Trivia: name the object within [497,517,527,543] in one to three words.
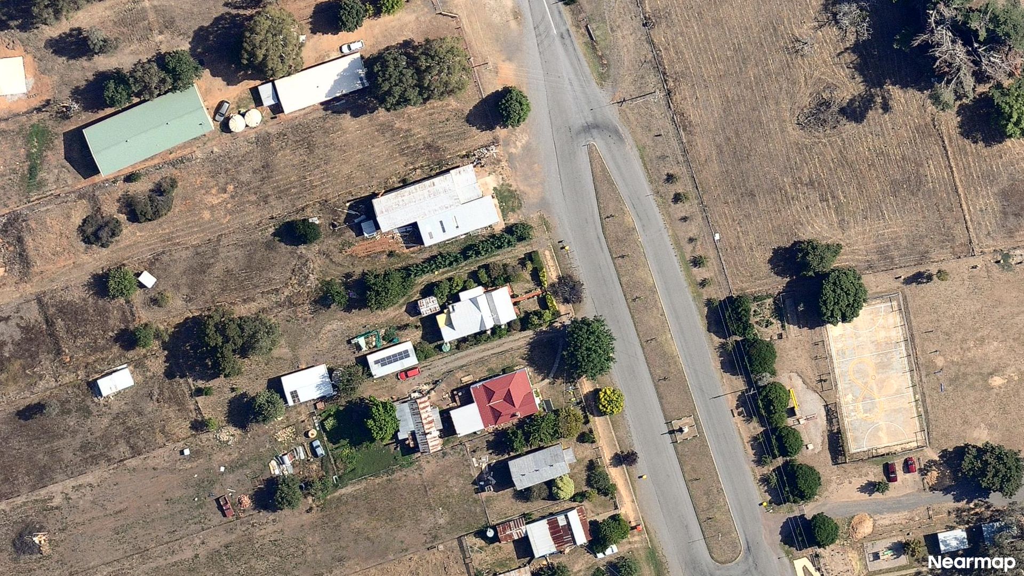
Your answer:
shed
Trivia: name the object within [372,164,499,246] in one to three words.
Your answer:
building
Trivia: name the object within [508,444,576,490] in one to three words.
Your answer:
house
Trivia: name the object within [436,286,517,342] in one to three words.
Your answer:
house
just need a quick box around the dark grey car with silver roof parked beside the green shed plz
[214,100,230,121]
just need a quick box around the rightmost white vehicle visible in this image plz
[595,545,619,558]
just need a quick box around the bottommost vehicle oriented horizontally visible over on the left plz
[397,367,421,380]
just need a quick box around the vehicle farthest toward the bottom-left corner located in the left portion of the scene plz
[218,494,233,518]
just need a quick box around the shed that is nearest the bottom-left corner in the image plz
[89,364,133,397]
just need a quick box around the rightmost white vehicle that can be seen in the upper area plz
[340,40,364,54]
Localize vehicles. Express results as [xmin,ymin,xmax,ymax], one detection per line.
[595,545,619,558]
[340,40,364,54]
[397,367,421,380]
[312,438,325,459]
[906,456,916,474]
[888,462,898,483]
[214,100,230,121]
[218,494,233,518]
